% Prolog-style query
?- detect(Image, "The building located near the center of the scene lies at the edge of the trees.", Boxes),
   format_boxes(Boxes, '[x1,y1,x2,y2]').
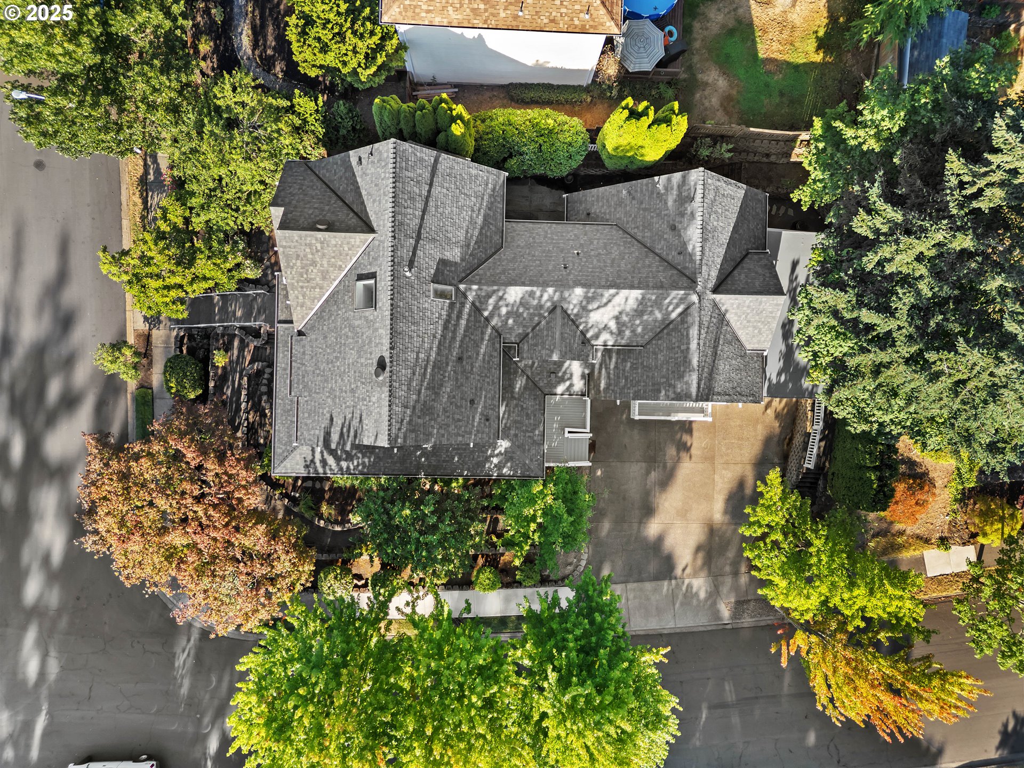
[268,138,830,483]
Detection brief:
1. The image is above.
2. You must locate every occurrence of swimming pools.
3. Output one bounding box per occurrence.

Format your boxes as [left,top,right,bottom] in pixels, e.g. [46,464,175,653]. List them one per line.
[626,0,685,34]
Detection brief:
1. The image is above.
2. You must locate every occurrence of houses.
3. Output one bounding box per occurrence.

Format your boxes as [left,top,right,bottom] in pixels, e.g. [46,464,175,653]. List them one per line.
[268,138,830,483]
[376,0,627,87]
